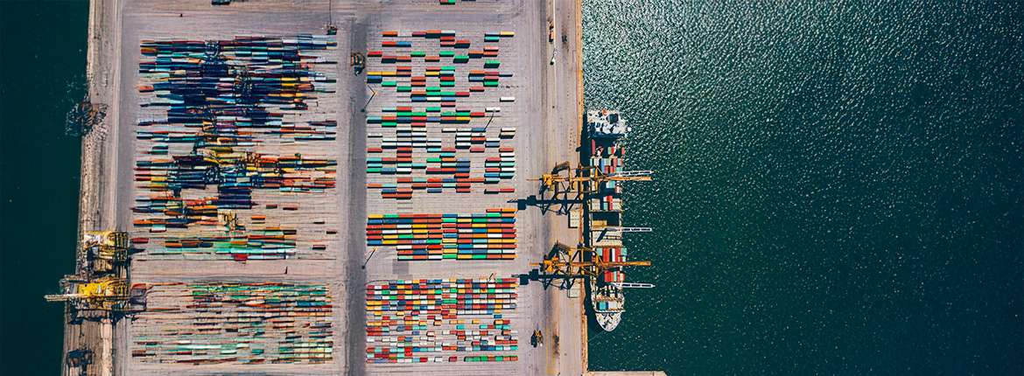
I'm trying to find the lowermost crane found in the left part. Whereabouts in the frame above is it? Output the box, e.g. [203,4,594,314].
[46,272,137,314]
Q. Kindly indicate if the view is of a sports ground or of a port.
port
